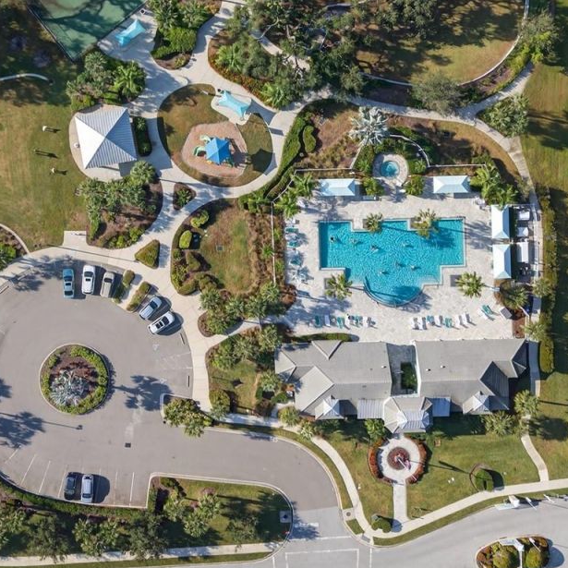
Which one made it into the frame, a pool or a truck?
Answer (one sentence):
This aerial view contains a pool.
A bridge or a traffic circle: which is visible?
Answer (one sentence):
The image shows a traffic circle.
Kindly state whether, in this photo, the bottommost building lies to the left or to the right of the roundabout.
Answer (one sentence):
Looking at the picture, you'll find the bottommost building to the right of the roundabout.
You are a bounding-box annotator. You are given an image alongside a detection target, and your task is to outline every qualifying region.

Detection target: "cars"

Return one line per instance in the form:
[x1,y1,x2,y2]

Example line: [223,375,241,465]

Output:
[147,309,178,336]
[61,267,75,298]
[63,469,79,501]
[80,264,96,297]
[80,471,95,505]
[100,268,115,299]
[137,294,167,322]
